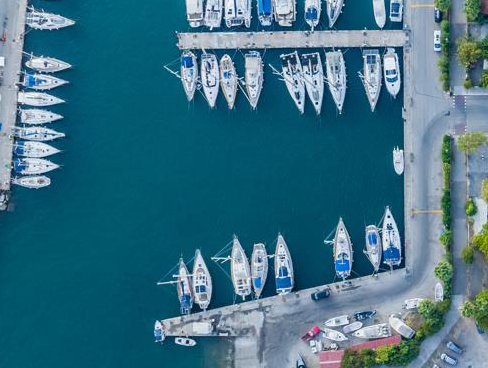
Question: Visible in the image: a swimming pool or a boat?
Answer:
boat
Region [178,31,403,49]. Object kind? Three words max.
pier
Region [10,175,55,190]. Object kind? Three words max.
boat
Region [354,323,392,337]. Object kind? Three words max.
boat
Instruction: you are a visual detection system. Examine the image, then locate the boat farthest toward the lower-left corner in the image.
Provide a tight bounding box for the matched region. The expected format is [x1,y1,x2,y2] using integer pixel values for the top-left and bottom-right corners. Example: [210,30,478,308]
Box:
[152,321,165,344]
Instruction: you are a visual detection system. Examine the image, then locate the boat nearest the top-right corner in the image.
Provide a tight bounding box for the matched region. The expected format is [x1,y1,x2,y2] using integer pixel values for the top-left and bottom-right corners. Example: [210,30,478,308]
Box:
[390,0,403,22]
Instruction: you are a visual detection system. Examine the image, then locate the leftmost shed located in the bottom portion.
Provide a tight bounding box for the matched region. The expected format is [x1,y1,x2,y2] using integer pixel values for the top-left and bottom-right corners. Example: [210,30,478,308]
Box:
[320,349,346,368]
